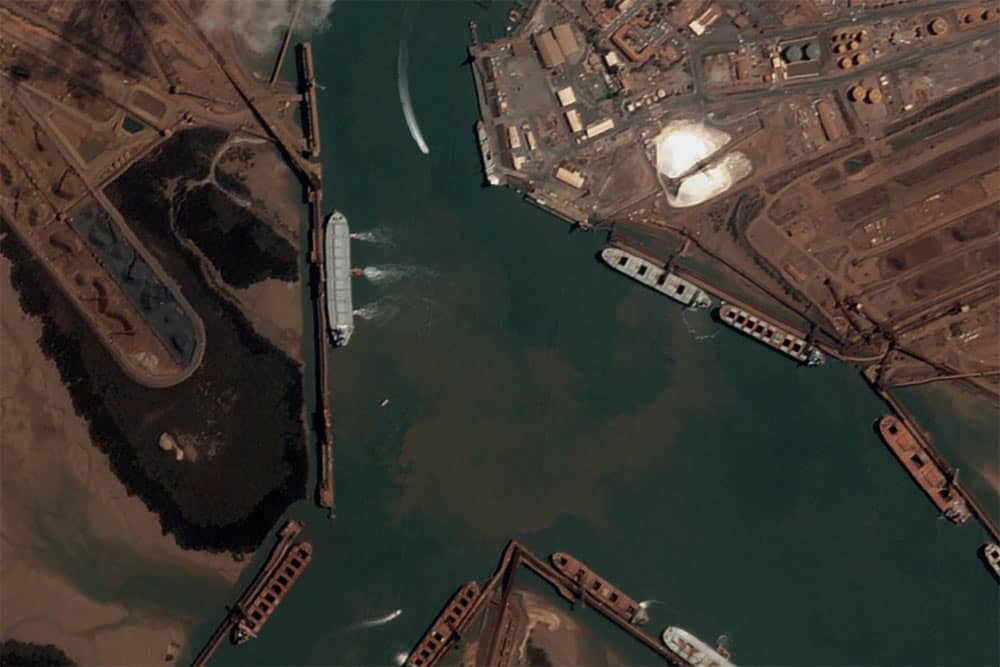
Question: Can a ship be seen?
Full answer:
Yes, there is a ship in the image.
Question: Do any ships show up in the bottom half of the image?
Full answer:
Yes, in the bottom half of the image there is a ship.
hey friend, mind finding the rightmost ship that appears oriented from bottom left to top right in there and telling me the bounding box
[401,581,479,667]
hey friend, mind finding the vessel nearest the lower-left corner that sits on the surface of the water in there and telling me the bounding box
[232,542,312,645]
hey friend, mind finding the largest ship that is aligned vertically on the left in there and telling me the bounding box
[326,211,354,348]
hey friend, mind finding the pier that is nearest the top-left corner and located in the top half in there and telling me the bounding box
[302,42,320,155]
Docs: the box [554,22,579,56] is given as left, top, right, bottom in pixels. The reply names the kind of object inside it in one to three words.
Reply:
building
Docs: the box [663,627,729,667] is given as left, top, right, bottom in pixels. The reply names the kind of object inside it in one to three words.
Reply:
ship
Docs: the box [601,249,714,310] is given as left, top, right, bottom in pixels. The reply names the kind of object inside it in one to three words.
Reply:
ship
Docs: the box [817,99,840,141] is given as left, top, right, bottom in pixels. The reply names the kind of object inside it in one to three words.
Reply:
shed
